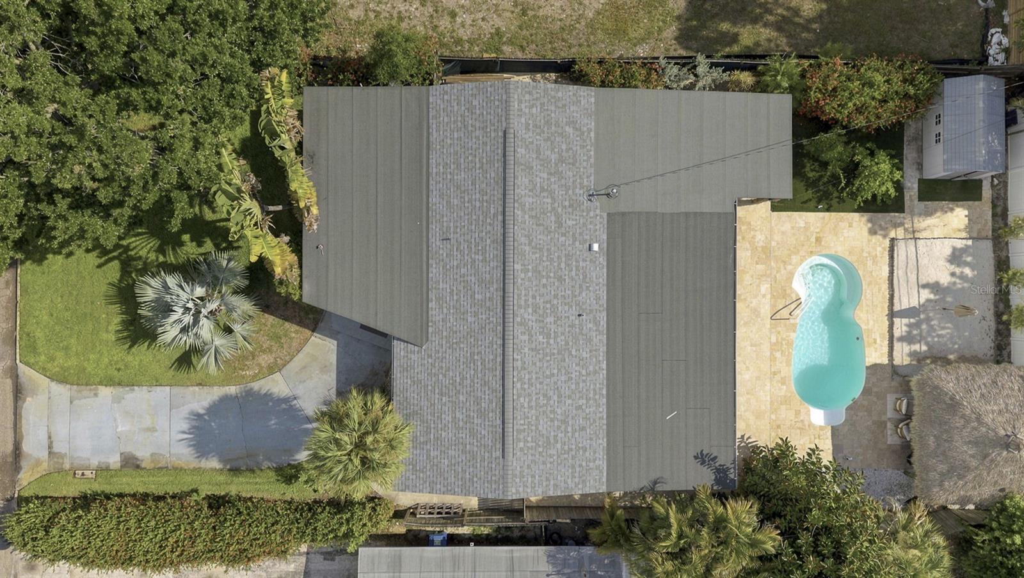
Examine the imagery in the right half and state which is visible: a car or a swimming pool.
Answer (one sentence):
The feature located in the right half is a swimming pool.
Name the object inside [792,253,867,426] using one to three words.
swimming pool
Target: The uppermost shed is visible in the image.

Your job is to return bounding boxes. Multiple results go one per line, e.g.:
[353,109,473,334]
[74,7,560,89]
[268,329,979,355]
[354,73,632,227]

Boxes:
[924,77,1004,179]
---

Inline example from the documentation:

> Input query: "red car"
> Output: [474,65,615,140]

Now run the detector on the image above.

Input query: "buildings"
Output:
[357,536,627,578]
[911,366,1024,508]
[924,77,1004,179]
[302,80,792,499]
